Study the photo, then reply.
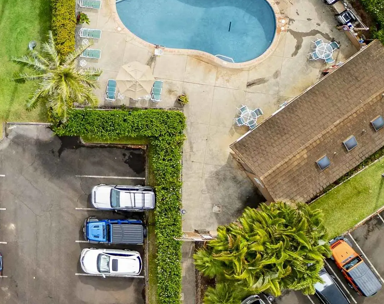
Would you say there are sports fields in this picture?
No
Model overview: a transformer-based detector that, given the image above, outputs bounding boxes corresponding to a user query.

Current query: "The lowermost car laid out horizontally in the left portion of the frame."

[80,247,142,277]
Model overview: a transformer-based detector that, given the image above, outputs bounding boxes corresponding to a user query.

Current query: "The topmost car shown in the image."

[90,183,156,213]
